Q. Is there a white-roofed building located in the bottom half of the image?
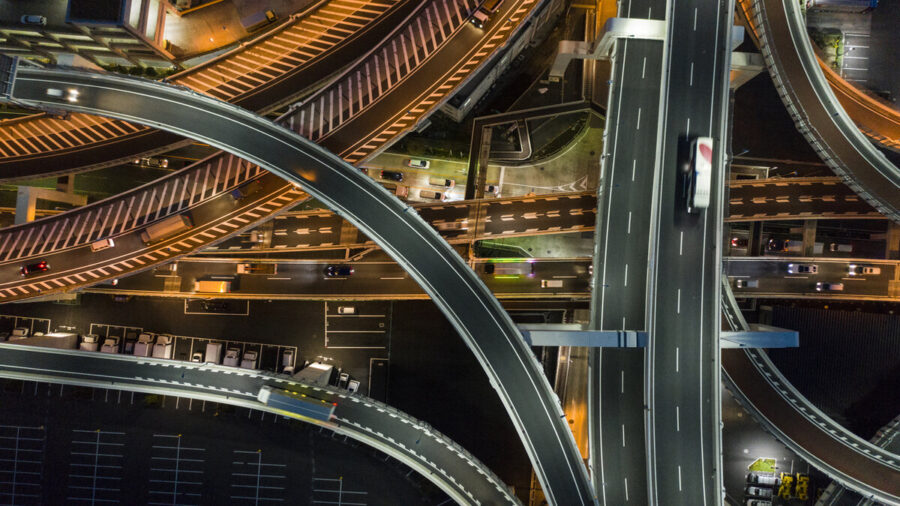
No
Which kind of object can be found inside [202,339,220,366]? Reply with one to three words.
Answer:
vehicle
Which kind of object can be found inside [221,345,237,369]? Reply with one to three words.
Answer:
vehicle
